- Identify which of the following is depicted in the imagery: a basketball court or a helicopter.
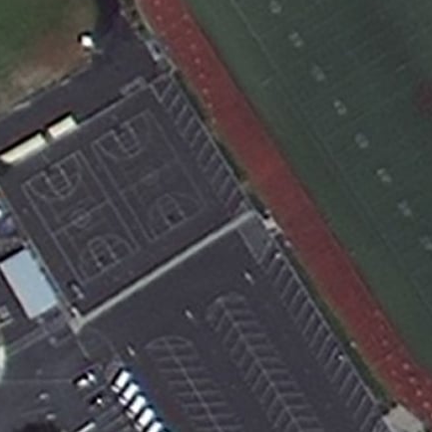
basketball court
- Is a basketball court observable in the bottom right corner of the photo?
No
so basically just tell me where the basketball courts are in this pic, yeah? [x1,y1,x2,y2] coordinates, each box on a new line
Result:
[18,150,141,287]
[89,110,207,243]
